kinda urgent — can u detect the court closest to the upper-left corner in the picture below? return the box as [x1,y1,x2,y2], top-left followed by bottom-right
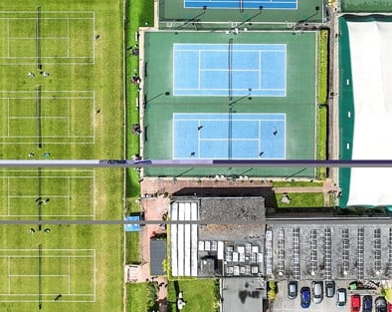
[0,12,94,63]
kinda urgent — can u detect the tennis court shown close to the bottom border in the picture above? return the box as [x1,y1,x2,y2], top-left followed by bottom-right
[0,249,96,301]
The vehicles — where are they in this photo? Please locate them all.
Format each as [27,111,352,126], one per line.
[336,286,345,306]
[288,279,299,298]
[362,293,372,312]
[376,297,386,312]
[350,294,359,312]
[301,285,312,307]
[313,280,323,303]
[326,279,335,298]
